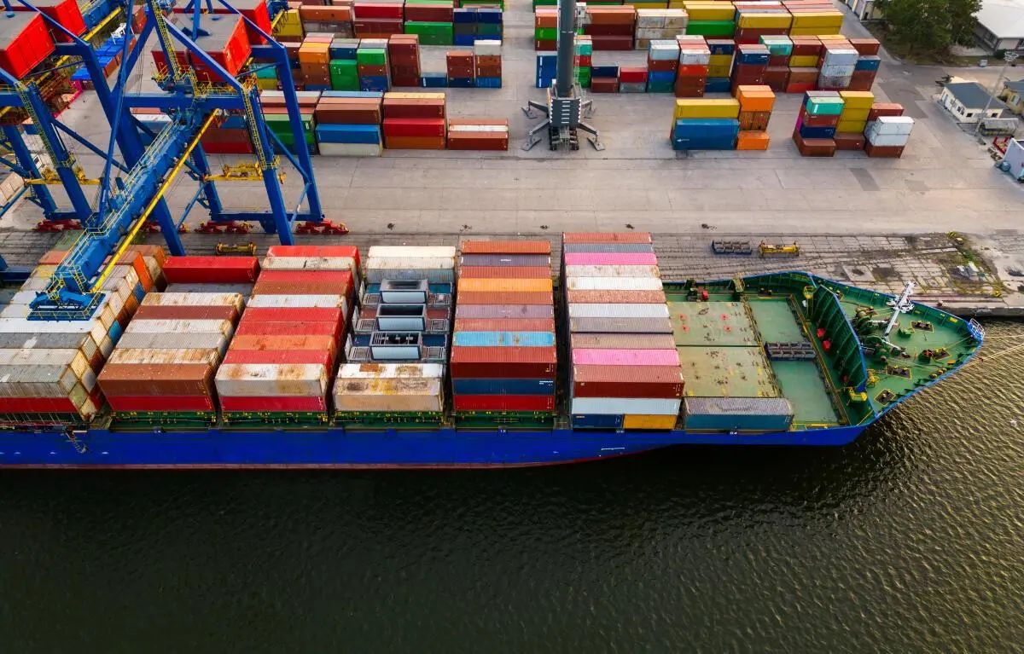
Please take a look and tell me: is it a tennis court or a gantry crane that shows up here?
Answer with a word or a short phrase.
gantry crane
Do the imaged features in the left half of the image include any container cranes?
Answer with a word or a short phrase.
Yes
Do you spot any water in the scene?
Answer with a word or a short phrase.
Yes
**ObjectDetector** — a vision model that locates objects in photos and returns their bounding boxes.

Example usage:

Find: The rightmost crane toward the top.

[521,0,605,149]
